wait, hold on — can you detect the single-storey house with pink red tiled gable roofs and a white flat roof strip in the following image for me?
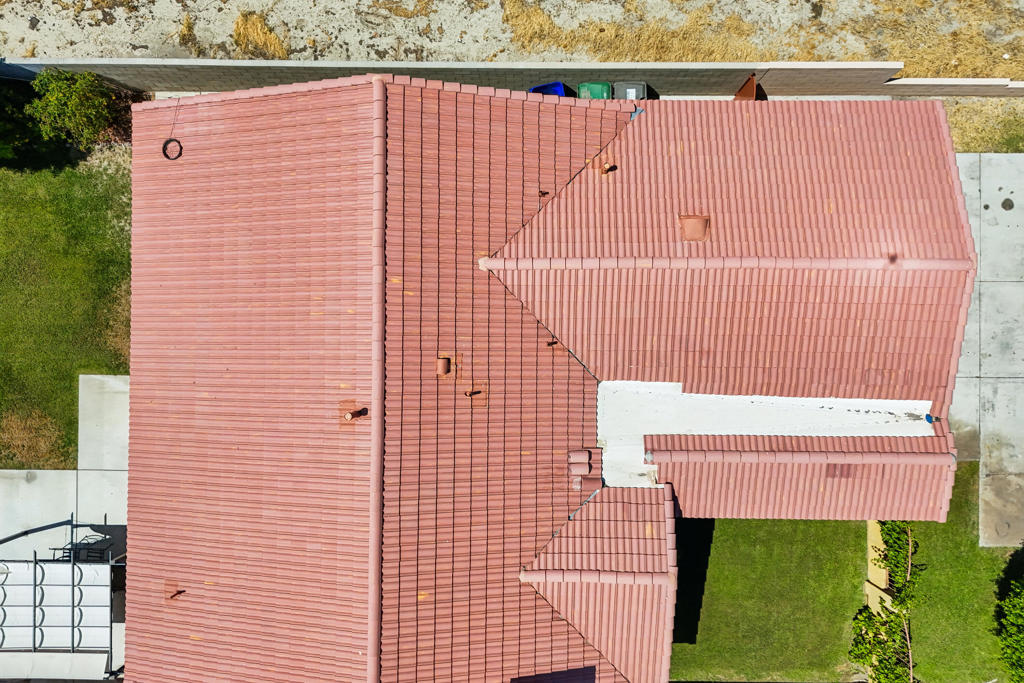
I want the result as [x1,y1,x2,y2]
[124,70,979,683]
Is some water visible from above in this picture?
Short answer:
No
